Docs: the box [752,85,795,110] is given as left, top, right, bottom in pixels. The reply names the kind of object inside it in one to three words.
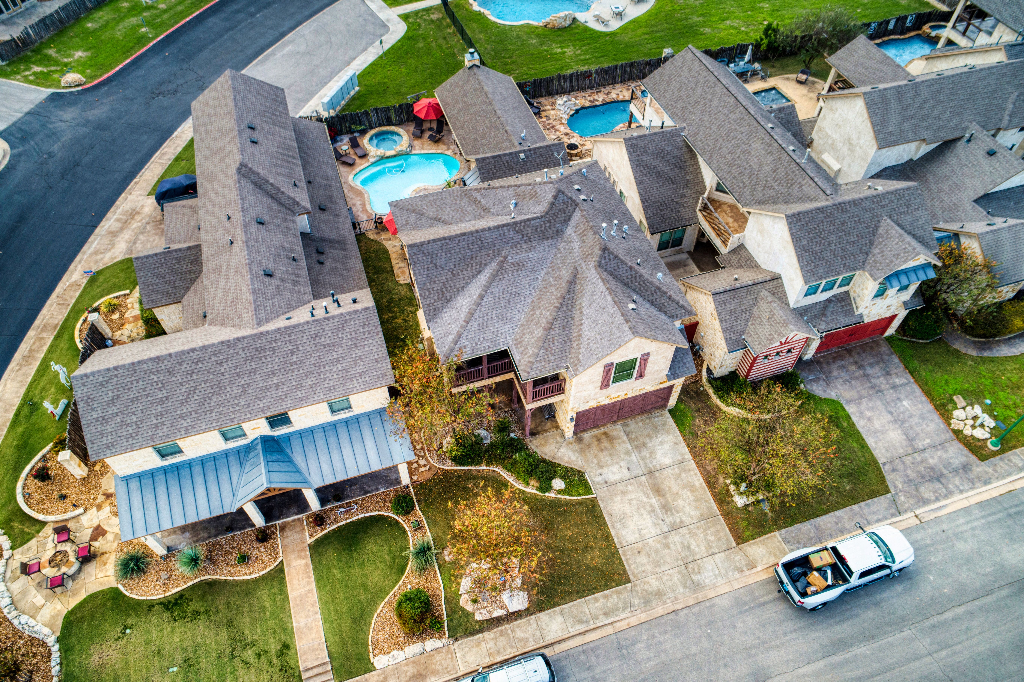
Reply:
swimming pool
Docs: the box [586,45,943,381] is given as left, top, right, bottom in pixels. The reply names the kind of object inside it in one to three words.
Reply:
house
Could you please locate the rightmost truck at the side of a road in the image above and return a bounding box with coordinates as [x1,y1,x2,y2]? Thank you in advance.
[768,523,912,611]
